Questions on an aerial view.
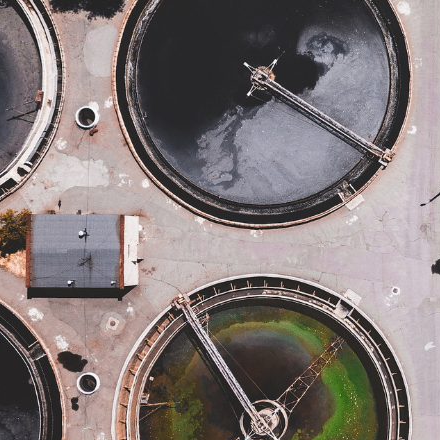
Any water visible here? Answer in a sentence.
Yes, the picture does contain water.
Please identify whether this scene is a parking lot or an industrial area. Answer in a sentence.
It's an industrial area.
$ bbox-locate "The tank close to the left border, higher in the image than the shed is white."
[0,0,65,199]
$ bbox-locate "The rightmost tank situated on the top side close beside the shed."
[113,0,410,227]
